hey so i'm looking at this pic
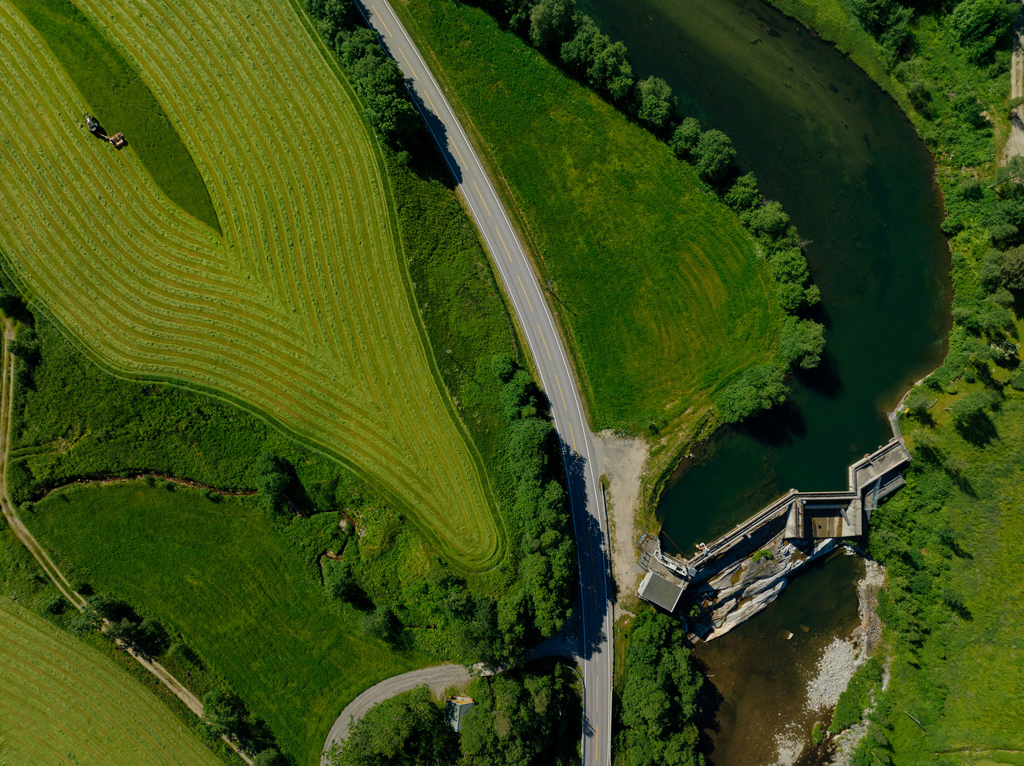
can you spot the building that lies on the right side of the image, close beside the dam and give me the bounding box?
[640,571,683,612]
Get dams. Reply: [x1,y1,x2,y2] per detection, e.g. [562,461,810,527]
[684,437,911,574]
